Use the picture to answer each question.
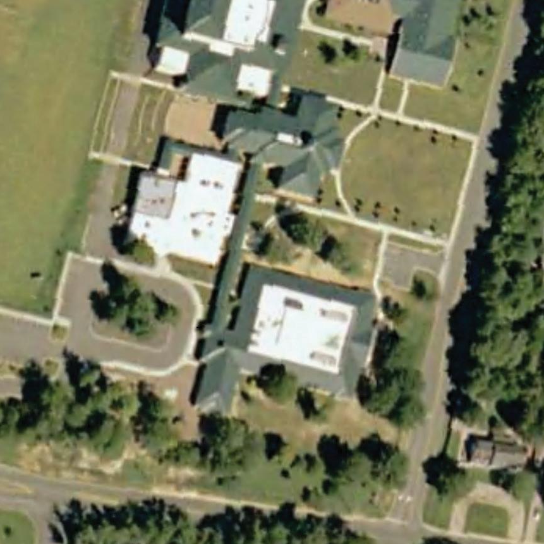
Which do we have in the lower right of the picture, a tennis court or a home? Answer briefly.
home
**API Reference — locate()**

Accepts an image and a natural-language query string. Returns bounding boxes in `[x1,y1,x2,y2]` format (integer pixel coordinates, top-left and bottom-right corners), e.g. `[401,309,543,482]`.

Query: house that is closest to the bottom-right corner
[470,429,527,467]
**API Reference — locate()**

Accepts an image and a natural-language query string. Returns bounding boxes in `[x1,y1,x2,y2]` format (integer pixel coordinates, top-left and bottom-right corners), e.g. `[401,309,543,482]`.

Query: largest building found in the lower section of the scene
[200,262,375,398]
